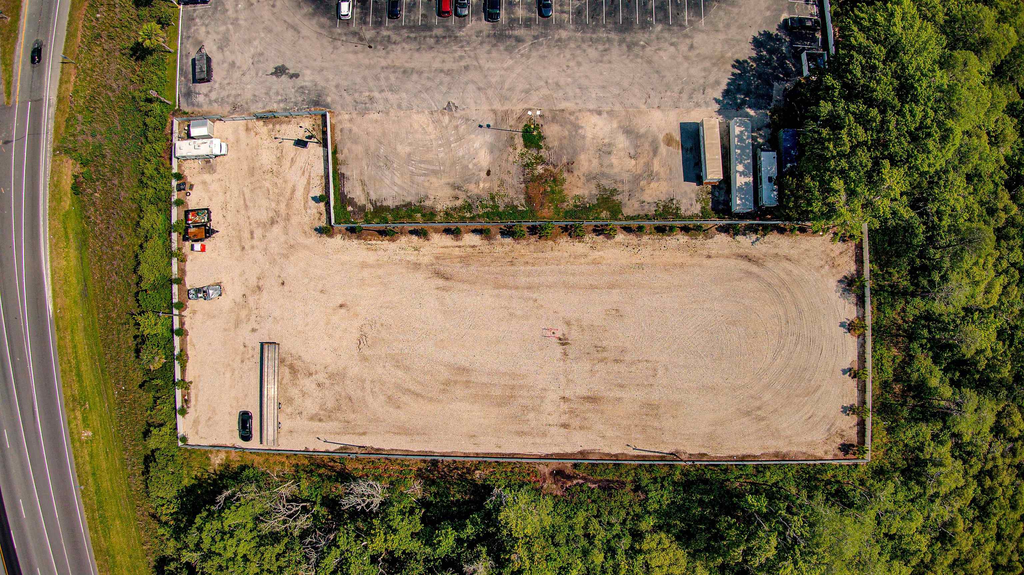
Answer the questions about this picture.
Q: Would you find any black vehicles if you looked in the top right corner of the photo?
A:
Yes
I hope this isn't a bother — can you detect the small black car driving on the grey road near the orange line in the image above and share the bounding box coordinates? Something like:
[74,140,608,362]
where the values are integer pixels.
[27,40,44,65]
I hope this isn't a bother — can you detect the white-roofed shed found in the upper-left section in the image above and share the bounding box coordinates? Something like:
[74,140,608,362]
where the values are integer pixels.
[189,119,215,140]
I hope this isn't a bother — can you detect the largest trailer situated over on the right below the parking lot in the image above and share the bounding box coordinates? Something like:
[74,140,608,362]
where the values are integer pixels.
[729,118,753,214]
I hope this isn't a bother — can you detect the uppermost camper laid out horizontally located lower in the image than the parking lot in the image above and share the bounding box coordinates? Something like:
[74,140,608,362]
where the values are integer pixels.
[176,139,234,160]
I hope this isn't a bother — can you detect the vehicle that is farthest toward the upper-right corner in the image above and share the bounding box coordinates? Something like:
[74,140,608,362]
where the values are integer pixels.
[788,13,823,30]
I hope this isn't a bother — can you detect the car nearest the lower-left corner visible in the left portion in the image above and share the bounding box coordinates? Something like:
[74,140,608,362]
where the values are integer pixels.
[237,411,253,442]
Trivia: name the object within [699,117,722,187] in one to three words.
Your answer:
trailer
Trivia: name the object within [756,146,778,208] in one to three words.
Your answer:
vehicle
